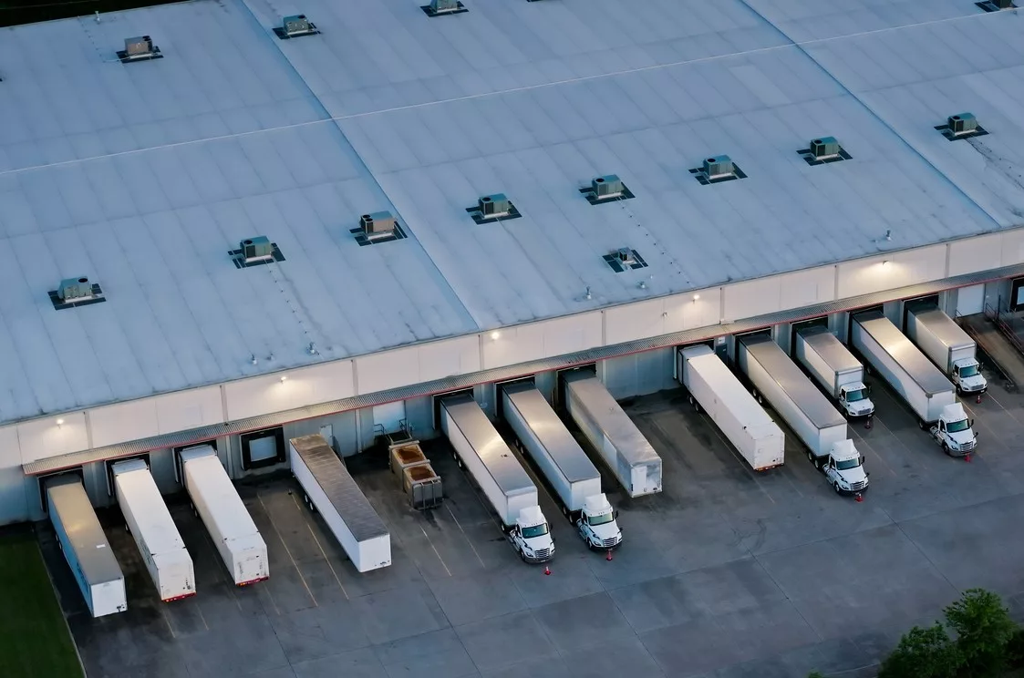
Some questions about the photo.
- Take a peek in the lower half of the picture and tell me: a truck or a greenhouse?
truck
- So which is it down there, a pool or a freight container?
freight container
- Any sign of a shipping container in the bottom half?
Yes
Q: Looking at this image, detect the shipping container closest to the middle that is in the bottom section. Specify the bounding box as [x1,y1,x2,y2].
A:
[388,439,443,511]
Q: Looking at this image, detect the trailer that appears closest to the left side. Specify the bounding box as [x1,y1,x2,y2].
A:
[47,472,127,617]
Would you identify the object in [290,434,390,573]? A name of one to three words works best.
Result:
trailer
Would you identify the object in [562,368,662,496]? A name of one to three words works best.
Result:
trailer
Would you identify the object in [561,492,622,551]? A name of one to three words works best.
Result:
truck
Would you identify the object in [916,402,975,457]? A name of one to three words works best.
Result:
truck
